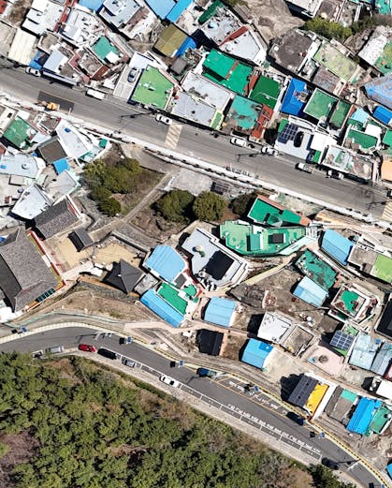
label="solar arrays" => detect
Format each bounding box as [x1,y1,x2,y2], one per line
[330,330,353,350]
[276,123,297,143]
